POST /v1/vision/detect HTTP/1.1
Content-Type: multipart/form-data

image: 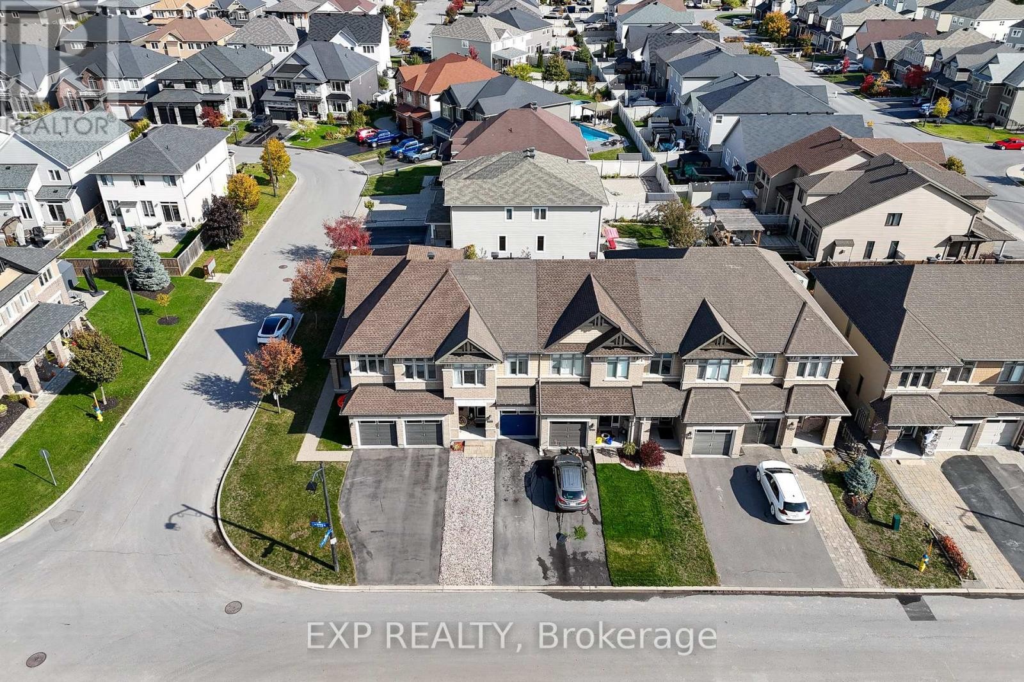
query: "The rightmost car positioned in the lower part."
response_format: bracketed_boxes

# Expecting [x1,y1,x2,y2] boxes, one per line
[752,458,807,518]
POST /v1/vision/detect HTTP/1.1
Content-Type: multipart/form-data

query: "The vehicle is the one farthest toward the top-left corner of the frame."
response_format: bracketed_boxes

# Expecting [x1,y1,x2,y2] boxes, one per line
[251,110,277,128]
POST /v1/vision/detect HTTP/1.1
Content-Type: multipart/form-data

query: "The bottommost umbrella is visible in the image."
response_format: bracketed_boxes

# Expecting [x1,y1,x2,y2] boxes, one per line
[86,264,104,295]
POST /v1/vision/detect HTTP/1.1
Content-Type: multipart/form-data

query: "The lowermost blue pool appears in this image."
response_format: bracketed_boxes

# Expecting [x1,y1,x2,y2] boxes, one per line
[577,121,615,142]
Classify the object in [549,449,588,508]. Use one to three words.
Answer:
car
